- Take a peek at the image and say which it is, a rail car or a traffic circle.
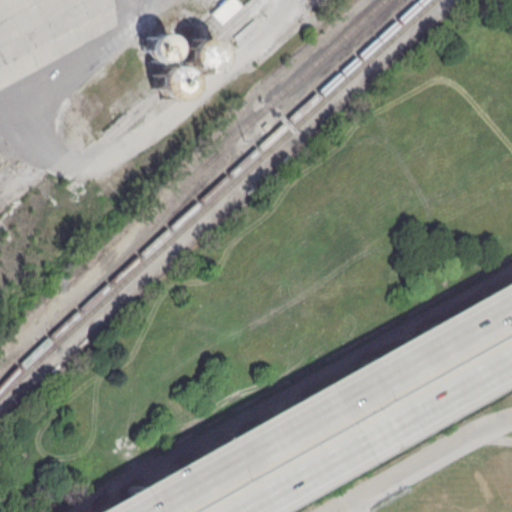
rail car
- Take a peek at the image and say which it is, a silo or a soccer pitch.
silo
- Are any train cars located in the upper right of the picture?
Yes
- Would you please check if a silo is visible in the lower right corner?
No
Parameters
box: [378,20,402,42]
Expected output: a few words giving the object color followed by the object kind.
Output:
white rail car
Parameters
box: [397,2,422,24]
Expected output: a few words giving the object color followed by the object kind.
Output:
white rail car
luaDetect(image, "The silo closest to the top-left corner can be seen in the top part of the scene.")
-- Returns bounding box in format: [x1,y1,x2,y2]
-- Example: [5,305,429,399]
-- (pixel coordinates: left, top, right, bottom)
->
[140,33,188,68]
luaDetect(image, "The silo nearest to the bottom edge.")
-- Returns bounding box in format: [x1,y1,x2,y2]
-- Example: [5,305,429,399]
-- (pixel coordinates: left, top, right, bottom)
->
[152,66,204,102]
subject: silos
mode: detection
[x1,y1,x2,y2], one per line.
[183,38,234,74]
[152,66,204,102]
[140,33,188,68]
